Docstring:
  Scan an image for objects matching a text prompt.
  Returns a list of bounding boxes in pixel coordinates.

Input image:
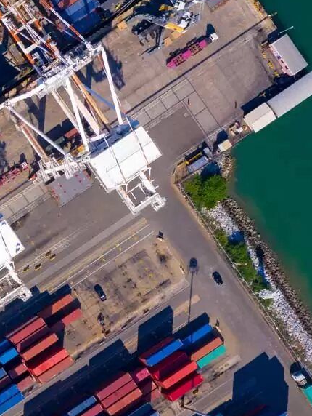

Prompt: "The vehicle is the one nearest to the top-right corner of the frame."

[168,34,214,69]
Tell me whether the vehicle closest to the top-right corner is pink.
Yes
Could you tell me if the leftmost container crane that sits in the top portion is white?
Yes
